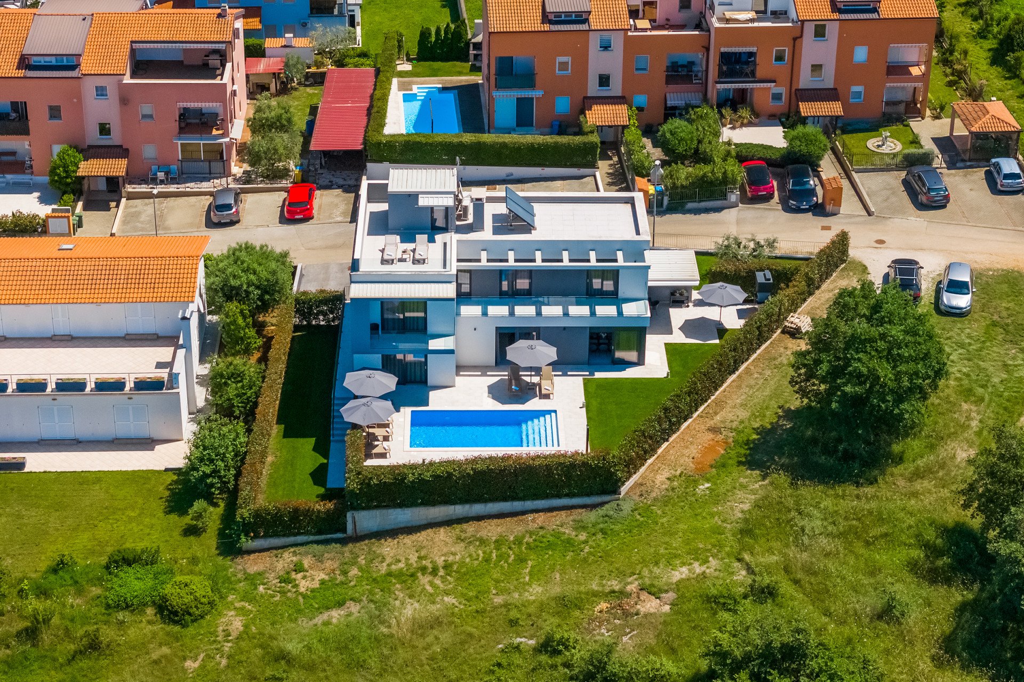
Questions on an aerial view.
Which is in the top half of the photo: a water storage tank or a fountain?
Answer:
fountain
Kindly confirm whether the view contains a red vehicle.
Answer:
Yes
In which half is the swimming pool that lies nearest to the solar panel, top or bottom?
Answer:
top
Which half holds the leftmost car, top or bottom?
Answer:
top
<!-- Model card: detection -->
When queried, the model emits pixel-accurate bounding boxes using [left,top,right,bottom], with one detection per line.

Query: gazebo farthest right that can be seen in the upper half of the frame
[950,87,1021,169]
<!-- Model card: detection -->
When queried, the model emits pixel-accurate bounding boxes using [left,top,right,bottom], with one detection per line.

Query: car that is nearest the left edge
[209,184,243,220]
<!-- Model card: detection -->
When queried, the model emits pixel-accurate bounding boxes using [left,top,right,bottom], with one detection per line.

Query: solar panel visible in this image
[505,187,535,231]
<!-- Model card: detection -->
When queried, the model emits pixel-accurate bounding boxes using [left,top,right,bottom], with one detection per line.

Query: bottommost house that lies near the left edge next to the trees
[0,234,207,444]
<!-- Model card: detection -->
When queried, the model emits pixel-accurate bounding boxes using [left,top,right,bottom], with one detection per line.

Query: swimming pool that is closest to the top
[392,82,492,134]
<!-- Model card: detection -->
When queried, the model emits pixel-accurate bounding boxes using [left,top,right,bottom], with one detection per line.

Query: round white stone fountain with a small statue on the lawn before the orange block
[866,129,903,154]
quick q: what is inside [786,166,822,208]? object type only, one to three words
car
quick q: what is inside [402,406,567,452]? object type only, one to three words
swimming pool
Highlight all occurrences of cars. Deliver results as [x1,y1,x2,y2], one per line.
[283,182,317,217]
[786,166,822,208]
[940,265,976,314]
[890,260,927,306]
[911,168,956,205]
[743,163,776,198]
[209,184,243,220]
[997,157,1024,189]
